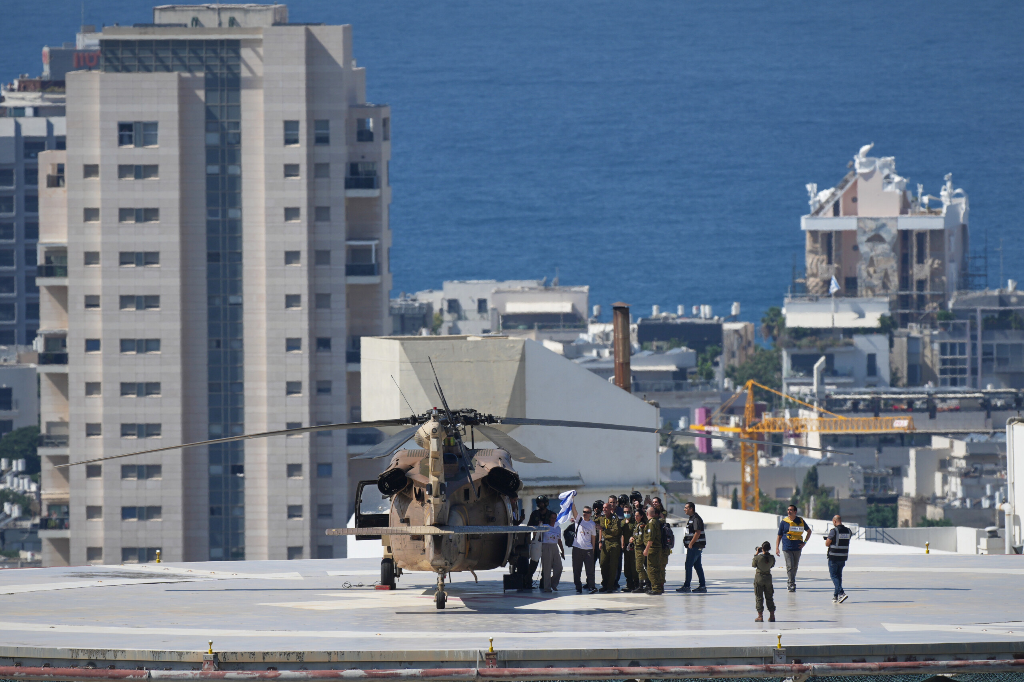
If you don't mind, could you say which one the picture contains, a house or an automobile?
house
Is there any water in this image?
Yes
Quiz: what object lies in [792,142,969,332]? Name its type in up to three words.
house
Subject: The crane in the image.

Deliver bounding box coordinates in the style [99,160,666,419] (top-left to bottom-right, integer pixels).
[690,383,920,508]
